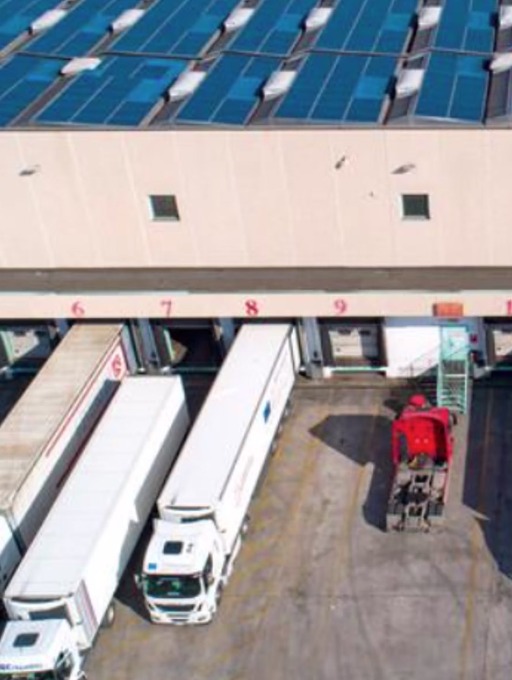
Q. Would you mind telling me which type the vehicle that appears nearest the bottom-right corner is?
truck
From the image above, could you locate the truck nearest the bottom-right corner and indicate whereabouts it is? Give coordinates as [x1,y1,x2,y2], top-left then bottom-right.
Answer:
[390,413,454,534]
